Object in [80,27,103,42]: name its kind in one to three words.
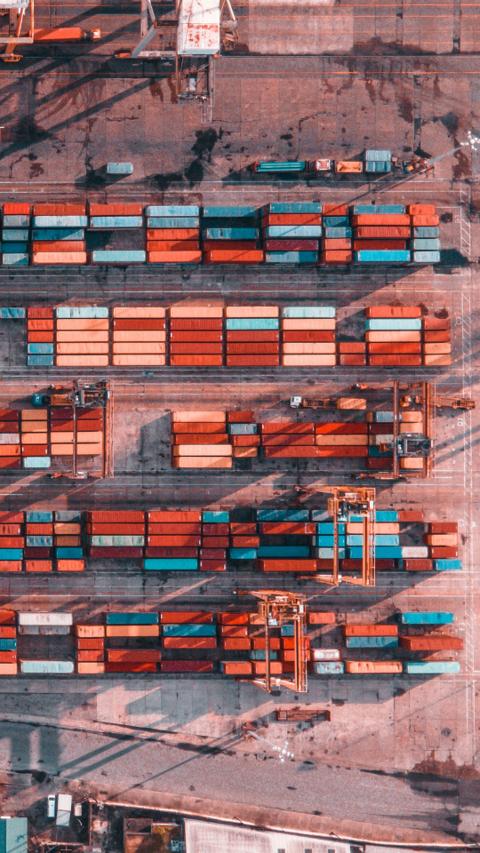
vehicle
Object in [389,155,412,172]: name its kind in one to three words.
work vehicle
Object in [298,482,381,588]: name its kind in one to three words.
container crane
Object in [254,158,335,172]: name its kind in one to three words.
vehicle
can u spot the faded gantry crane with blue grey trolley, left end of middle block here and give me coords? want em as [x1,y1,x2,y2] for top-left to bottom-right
[50,377,116,482]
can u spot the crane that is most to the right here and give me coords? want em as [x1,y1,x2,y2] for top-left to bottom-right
[354,377,441,482]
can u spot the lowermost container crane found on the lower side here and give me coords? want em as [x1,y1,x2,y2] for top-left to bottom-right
[234,585,312,697]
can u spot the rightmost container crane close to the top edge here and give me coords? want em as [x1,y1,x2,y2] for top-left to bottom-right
[122,0,252,123]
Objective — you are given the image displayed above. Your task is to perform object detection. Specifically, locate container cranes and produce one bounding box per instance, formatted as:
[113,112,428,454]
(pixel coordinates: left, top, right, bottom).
[50,377,116,482]
[298,482,381,588]
[122,0,252,123]
[234,585,312,697]
[354,377,441,482]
